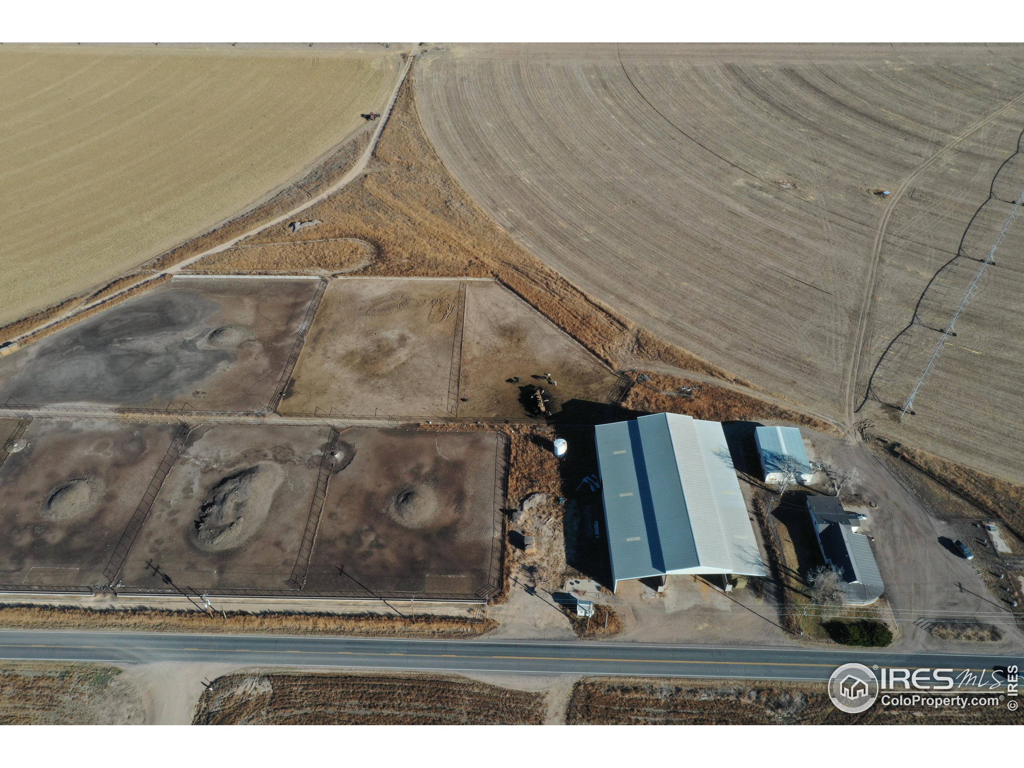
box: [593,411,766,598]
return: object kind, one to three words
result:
barn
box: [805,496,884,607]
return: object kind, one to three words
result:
house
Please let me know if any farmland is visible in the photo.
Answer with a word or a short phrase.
Yes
